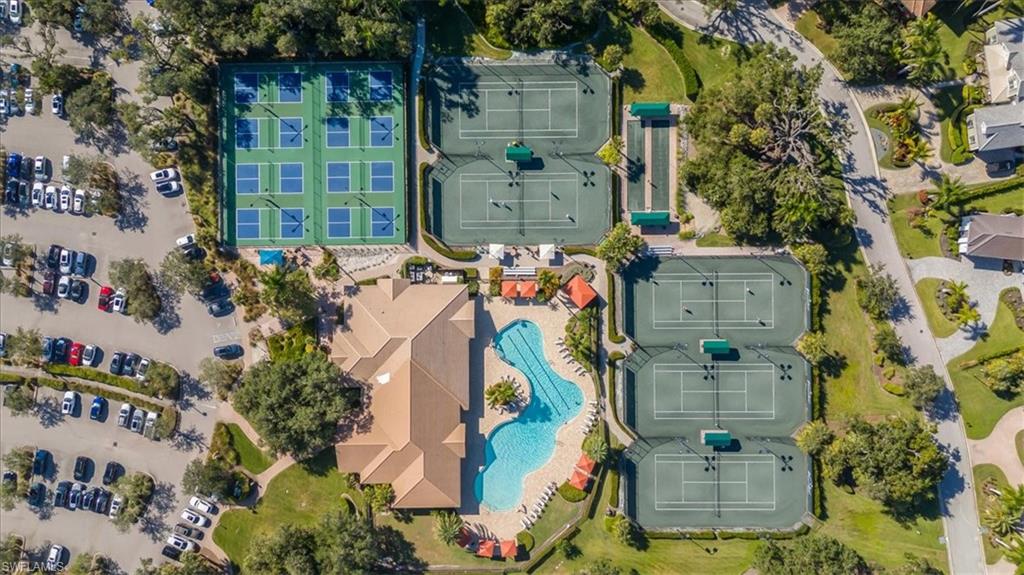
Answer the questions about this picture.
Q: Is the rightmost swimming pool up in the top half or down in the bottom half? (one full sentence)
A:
You can find the rightmost swimming pool in the bottom half.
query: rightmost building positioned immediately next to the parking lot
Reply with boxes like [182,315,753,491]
[326,279,475,509]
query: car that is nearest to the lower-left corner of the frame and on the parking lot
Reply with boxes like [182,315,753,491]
[49,541,64,566]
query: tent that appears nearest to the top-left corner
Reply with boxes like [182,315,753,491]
[259,250,287,265]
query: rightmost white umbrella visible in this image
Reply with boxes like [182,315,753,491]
[540,244,555,259]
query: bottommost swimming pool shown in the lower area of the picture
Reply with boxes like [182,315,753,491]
[473,318,586,513]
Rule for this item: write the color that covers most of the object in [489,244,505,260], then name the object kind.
white umbrella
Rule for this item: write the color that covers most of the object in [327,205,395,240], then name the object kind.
blue sports court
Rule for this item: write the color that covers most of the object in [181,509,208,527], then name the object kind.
white car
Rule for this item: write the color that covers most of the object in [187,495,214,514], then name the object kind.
white vehicle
